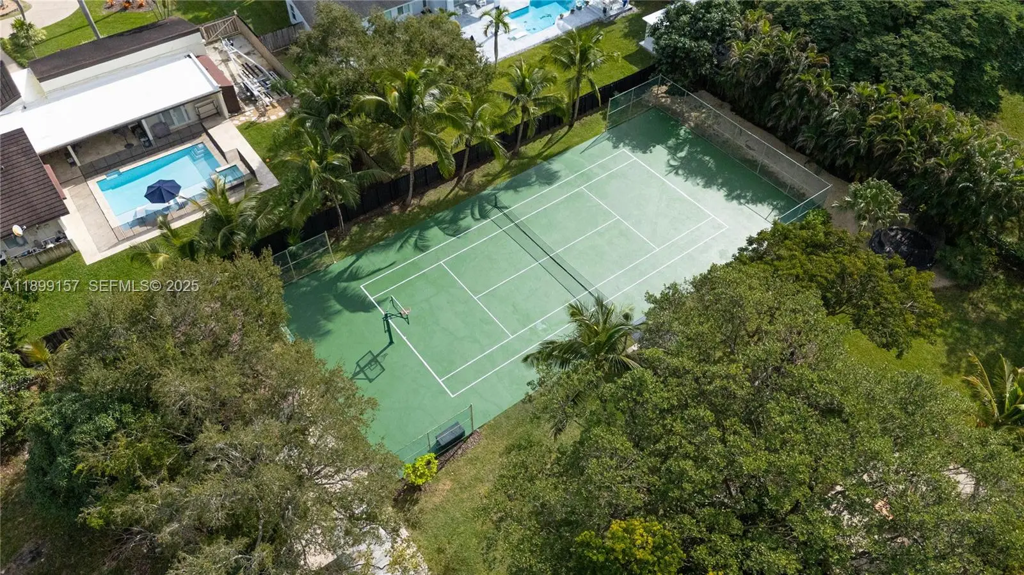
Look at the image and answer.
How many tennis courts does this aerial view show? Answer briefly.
1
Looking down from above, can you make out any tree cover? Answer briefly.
Yes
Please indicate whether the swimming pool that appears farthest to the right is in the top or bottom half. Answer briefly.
top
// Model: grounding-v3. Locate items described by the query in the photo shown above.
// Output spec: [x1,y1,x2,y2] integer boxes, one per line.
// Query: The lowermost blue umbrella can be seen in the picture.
[145,177,185,209]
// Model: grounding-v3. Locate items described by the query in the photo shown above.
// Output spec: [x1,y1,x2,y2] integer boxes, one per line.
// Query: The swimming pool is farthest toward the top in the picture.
[507,0,579,38]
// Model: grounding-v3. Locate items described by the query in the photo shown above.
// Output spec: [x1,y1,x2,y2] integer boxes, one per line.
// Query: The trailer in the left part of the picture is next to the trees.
[218,36,293,100]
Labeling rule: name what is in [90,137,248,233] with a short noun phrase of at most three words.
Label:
swimming pool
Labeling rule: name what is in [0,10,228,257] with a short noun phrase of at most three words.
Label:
house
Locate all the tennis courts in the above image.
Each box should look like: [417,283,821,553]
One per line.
[278,106,808,464]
